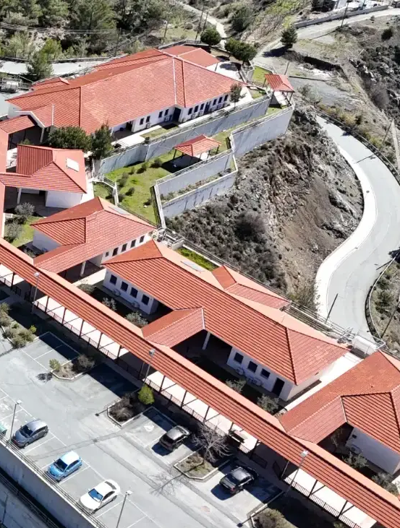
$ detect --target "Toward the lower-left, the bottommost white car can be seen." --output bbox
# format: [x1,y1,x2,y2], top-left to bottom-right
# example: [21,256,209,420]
[81,478,124,514]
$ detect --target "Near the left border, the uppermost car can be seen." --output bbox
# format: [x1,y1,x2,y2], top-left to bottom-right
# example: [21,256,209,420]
[14,418,51,449]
